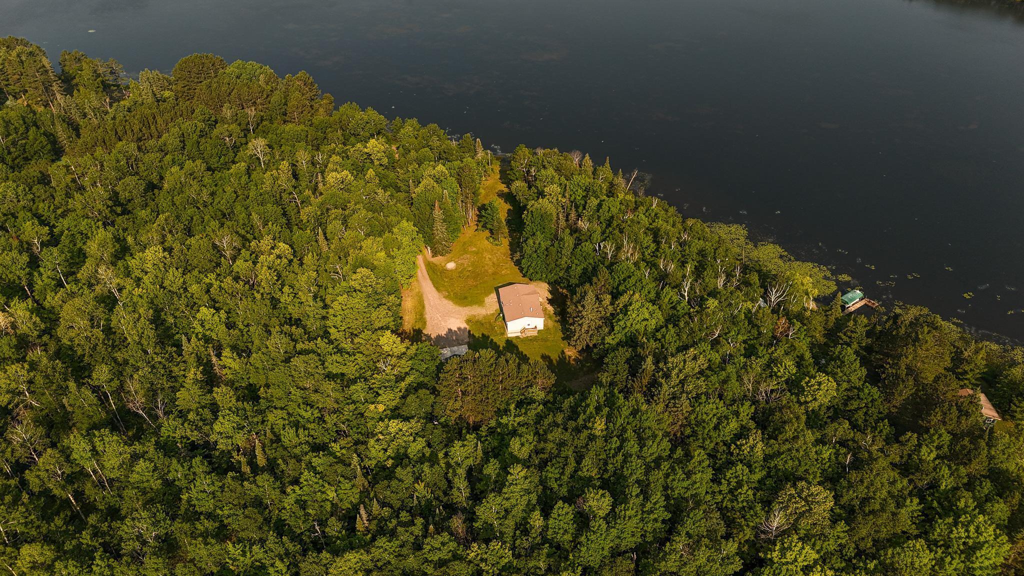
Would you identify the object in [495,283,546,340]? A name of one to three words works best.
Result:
house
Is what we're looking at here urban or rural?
rural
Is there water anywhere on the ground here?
Yes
